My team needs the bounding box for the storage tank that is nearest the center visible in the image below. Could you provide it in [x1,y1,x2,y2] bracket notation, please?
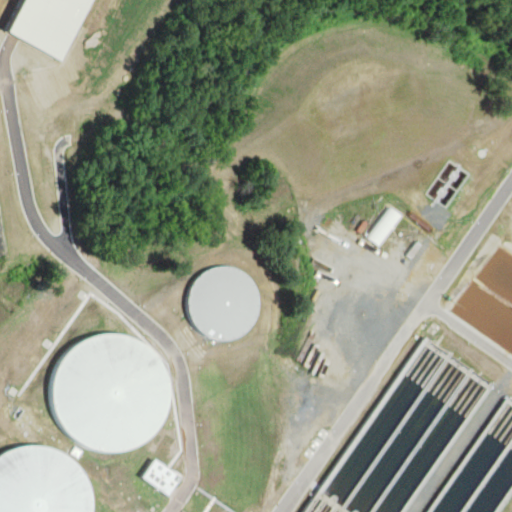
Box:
[184,266,260,339]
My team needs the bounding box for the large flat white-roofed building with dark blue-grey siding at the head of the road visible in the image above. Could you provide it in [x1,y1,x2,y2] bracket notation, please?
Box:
[8,0,96,62]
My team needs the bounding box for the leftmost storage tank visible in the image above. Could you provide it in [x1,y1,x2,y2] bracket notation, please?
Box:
[0,444,96,512]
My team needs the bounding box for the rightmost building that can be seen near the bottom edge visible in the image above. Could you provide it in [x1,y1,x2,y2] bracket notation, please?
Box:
[140,458,184,498]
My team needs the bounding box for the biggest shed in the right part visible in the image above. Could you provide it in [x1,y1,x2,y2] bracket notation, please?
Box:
[364,206,403,248]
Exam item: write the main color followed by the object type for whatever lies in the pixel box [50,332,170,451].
white storage tank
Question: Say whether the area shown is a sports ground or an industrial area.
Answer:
industrial area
